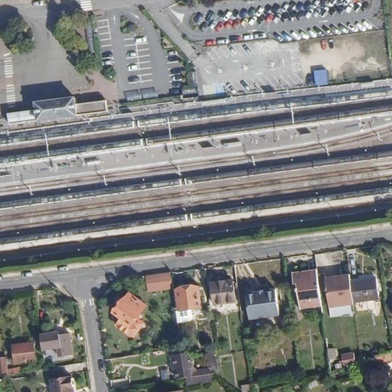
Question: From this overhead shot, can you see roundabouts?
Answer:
No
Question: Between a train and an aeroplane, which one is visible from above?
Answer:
train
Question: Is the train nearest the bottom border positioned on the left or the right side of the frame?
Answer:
left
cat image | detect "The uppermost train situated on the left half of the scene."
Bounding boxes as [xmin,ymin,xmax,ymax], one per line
[0,121,136,146]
